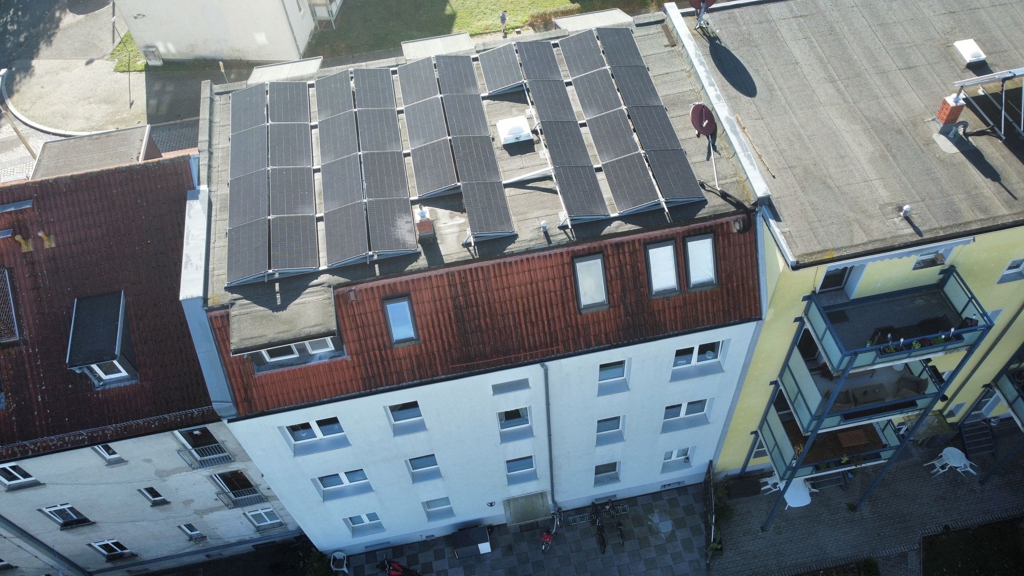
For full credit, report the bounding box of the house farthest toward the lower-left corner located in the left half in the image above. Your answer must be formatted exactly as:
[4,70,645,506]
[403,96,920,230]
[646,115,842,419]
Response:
[0,121,306,576]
